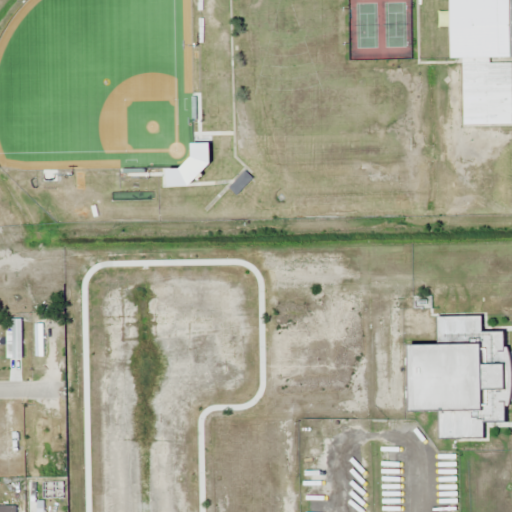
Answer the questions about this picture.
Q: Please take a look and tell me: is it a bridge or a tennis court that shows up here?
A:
tennis court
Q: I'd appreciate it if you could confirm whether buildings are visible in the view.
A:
Yes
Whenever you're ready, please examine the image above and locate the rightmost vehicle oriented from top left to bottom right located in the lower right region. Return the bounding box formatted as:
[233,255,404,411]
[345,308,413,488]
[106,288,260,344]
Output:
[412,426,431,446]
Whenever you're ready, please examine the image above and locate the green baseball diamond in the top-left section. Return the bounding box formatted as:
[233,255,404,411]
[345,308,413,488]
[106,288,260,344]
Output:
[0,0,193,168]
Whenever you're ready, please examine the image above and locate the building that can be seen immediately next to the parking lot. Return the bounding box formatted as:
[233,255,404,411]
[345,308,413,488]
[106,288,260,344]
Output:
[406,315,512,438]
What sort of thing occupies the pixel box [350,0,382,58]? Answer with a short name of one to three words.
tennis court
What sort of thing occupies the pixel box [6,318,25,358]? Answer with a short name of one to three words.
house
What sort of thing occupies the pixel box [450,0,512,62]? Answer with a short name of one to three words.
building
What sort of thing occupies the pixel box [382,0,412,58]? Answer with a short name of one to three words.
tennis court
